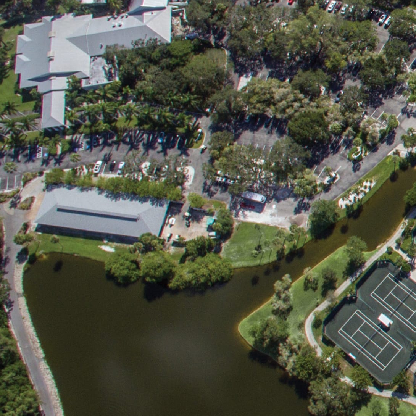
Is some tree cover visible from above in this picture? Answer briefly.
Yes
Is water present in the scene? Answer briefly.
Yes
